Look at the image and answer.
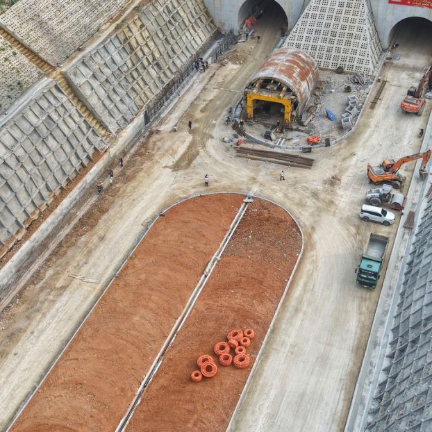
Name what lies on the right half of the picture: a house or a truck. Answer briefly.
truck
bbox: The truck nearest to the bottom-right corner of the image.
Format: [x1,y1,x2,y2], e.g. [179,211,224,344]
[354,231,392,289]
